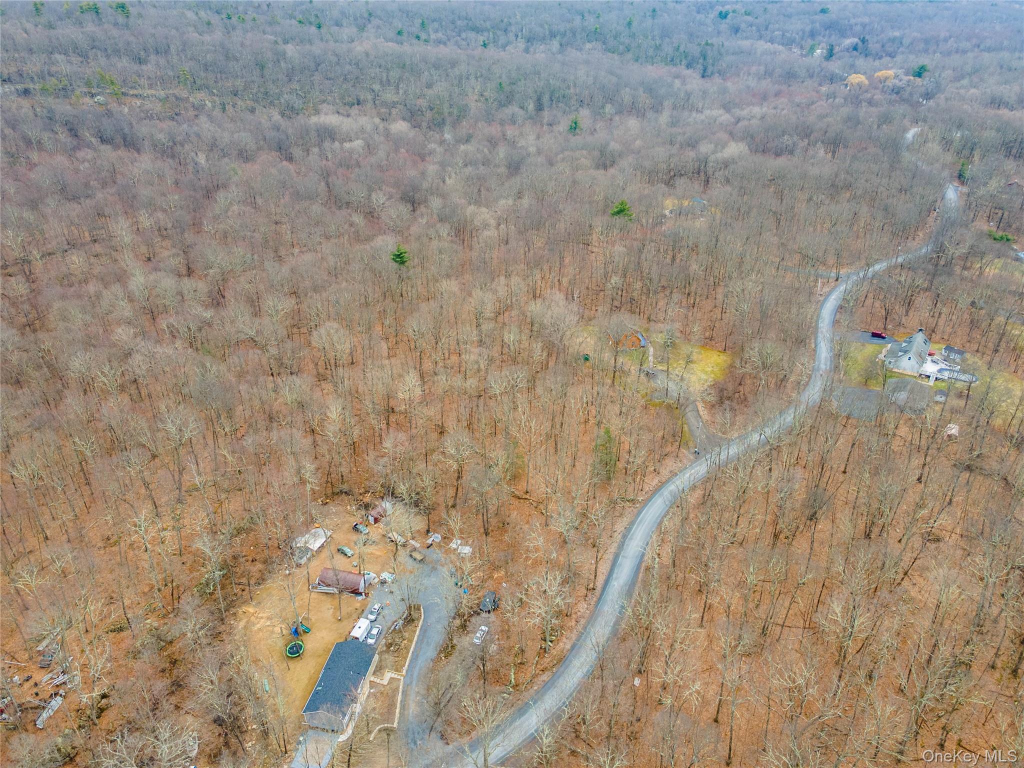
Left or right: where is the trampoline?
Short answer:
left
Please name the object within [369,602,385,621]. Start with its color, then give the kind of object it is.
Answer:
white car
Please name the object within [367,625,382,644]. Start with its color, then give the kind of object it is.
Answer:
white car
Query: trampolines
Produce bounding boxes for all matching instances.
[283,639,305,659]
